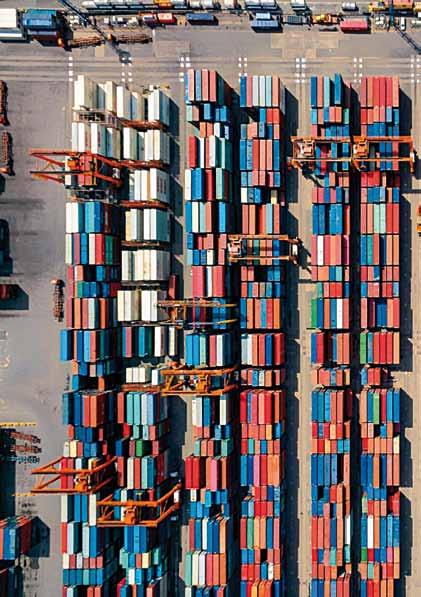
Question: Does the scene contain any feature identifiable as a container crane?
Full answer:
Yes, a container crane appears in the view.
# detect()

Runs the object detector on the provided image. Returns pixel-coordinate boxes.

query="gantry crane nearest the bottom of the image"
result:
[94,476,183,529]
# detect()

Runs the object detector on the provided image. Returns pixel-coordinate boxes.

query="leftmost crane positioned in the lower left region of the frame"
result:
[28,452,118,497]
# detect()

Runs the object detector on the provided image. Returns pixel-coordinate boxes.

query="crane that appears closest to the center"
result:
[160,297,240,328]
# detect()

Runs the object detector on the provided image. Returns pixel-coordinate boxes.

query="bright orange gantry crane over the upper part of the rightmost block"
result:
[353,134,416,178]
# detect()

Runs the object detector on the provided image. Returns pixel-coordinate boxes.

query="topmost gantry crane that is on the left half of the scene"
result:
[28,147,125,189]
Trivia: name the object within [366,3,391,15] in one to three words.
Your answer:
vehicle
